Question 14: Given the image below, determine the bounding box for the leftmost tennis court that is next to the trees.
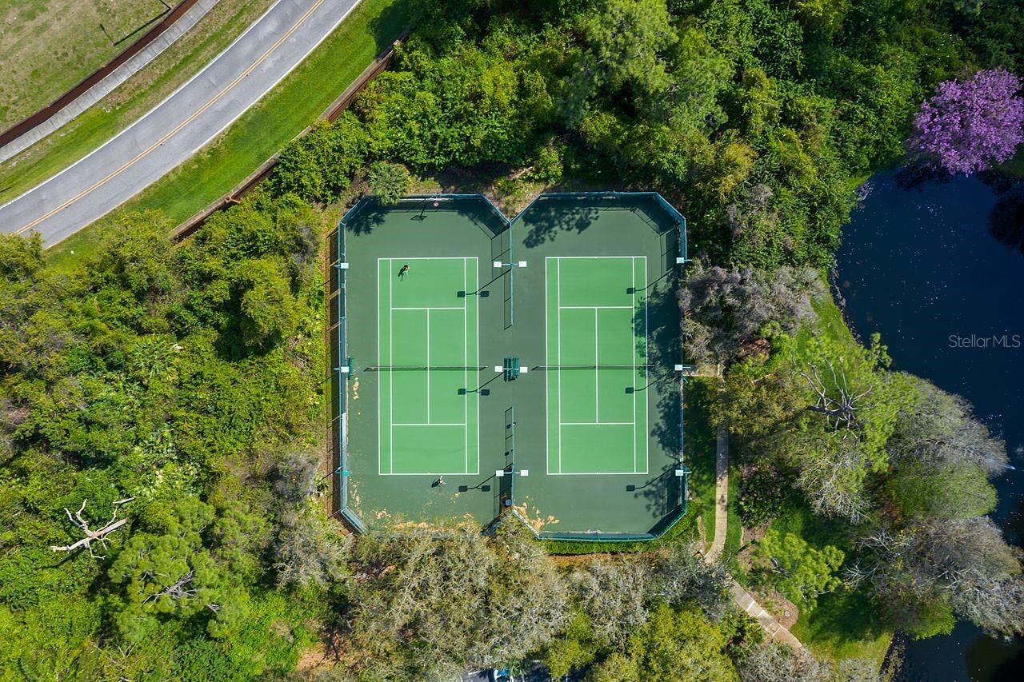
[346,200,512,526]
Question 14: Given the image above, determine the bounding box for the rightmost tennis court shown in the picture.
[510,198,680,534]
